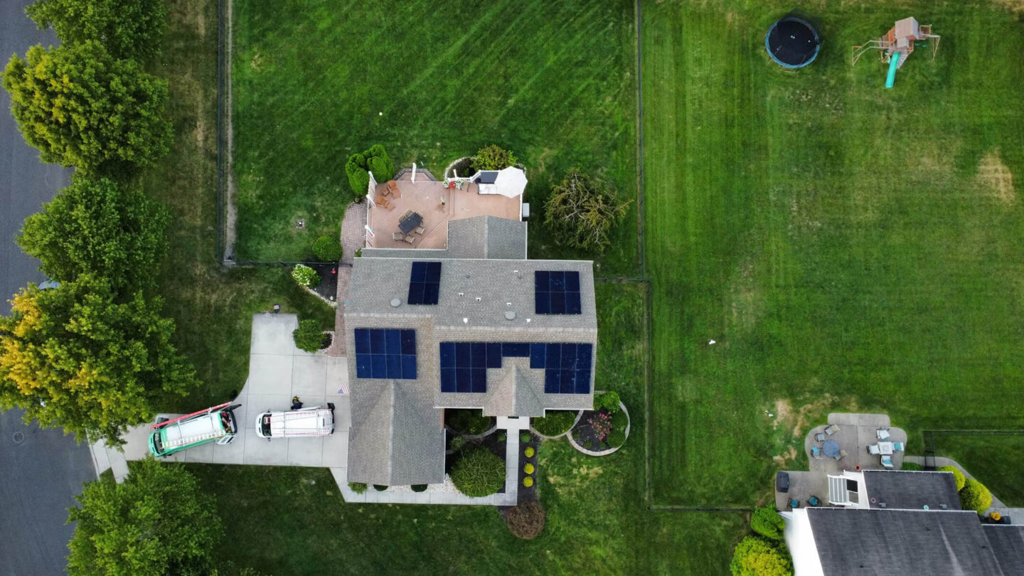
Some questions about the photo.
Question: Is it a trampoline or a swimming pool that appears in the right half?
trampoline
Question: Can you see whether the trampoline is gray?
No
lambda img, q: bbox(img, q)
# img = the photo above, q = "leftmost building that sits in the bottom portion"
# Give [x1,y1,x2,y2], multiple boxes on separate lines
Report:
[343,215,598,486]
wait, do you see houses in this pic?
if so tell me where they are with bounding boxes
[343,215,598,486]
[783,468,1024,576]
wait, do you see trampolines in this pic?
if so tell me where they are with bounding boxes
[765,10,824,72]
